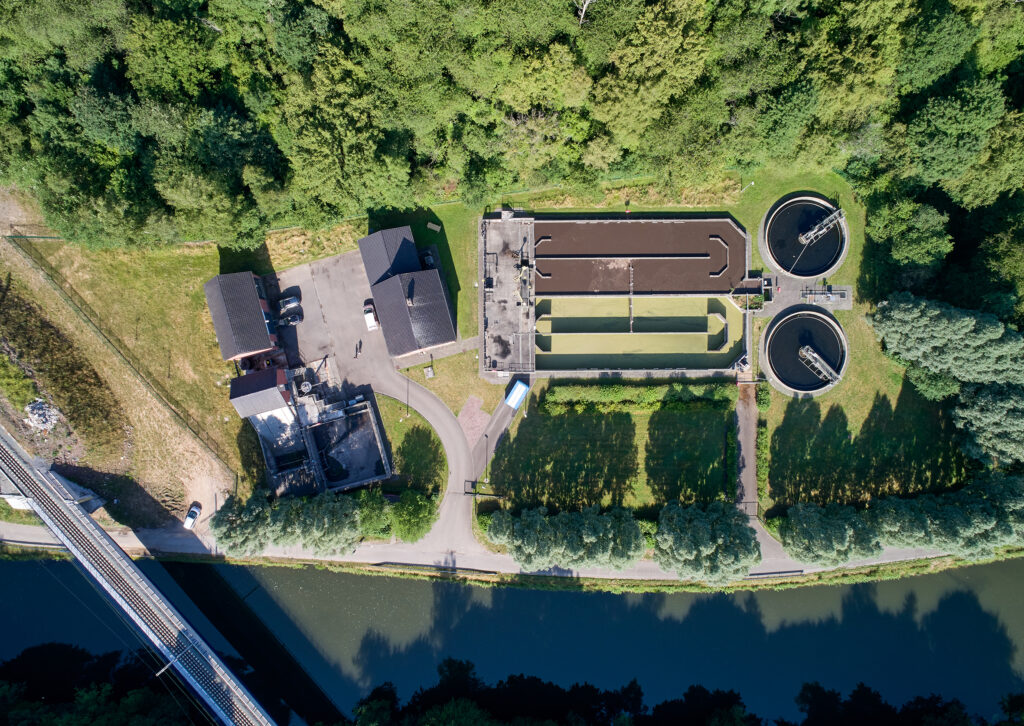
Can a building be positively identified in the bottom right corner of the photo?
No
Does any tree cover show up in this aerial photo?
Yes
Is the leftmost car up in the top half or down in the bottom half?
bottom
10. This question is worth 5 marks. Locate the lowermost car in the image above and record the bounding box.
[182,502,204,530]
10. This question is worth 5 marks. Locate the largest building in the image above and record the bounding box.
[357,225,456,358]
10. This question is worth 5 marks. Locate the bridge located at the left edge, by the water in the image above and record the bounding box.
[0,435,282,726]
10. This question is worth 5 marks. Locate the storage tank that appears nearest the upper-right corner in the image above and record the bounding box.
[759,193,850,284]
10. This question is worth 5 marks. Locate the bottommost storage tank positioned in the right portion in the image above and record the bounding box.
[760,307,850,397]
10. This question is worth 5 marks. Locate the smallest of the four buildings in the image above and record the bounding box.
[801,286,852,309]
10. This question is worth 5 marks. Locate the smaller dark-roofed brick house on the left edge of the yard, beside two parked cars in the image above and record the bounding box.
[203,272,281,361]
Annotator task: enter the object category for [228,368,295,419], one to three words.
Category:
building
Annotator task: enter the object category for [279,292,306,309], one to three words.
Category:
car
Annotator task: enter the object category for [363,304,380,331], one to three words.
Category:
vehicle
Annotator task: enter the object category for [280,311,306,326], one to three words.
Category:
car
